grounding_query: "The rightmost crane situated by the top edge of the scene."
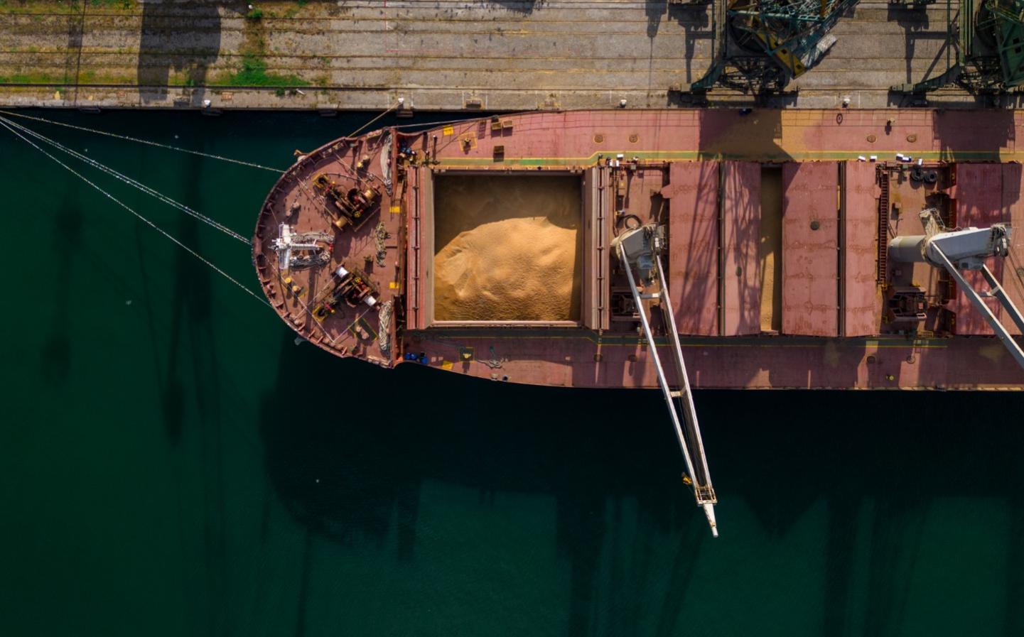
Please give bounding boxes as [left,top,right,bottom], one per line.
[899,0,1024,91]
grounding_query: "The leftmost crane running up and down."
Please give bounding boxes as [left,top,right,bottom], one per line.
[612,204,719,536]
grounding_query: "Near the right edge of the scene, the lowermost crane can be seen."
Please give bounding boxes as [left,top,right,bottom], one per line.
[891,204,1024,355]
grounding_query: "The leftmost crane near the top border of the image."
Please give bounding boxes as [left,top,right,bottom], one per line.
[674,0,847,91]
